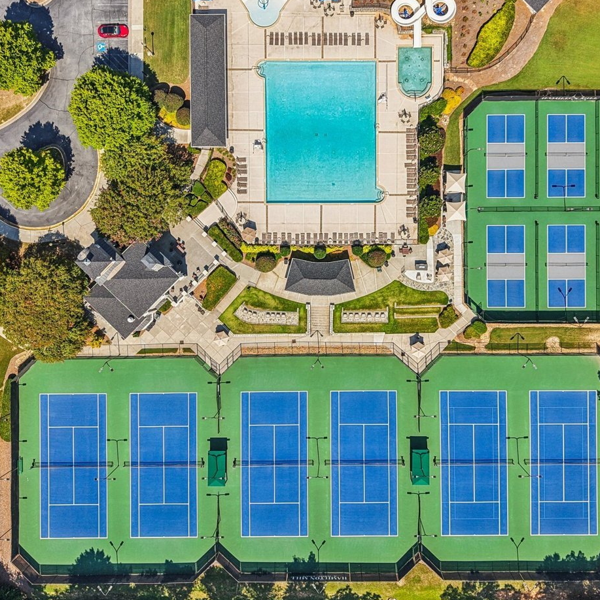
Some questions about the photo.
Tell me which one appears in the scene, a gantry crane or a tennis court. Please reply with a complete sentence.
Of the two, only a tennis court appears.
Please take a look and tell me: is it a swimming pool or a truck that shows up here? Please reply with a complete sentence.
The one in the frame is a swimming pool.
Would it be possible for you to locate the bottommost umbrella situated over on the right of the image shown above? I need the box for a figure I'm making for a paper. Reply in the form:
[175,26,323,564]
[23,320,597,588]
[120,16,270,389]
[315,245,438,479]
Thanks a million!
[411,339,427,356]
